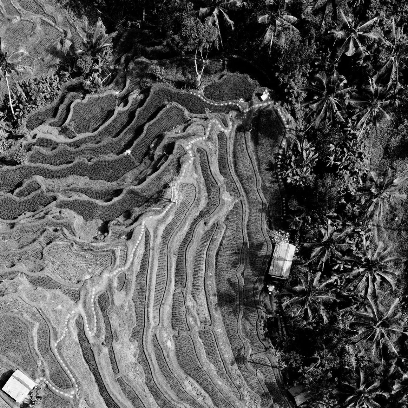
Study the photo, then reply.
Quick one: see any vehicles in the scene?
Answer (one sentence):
No, the picture doesn't show any vehicle.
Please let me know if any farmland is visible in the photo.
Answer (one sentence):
Yes, farmland shows up in the scene.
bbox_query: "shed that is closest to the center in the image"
[267,243,295,281]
